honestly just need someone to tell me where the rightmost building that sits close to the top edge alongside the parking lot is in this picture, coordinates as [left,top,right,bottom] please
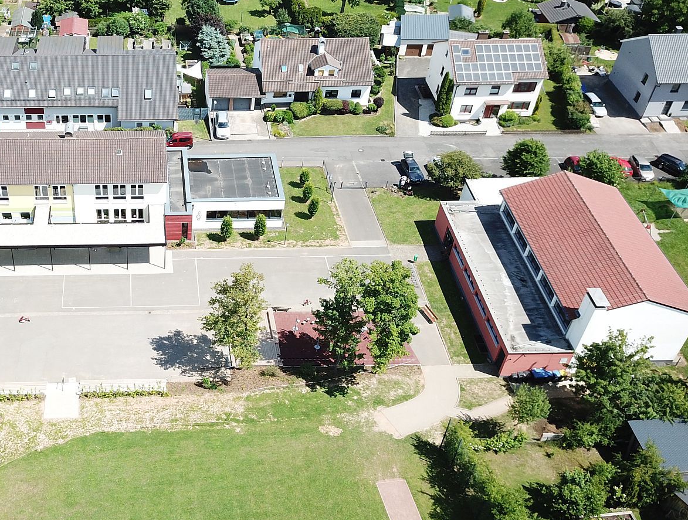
[603,22,688,122]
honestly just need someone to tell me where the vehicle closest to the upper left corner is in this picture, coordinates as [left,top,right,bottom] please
[165,129,199,148]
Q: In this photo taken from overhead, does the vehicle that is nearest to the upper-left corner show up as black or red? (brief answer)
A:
red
